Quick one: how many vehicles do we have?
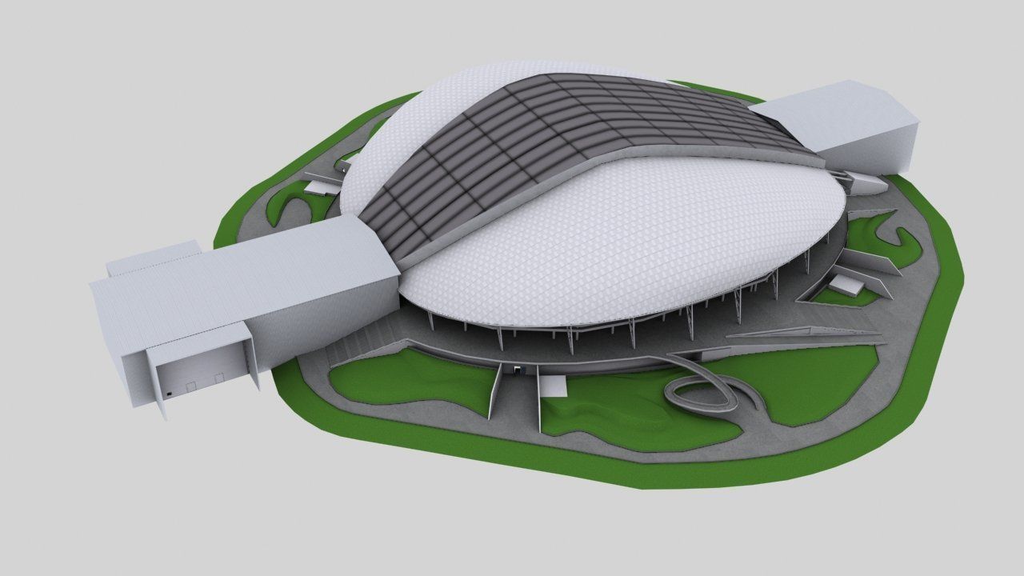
zero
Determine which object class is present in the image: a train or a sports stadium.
sports stadium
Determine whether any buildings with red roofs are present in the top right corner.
No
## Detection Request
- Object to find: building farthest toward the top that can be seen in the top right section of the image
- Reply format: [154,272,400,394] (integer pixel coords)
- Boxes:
[746,80,921,179]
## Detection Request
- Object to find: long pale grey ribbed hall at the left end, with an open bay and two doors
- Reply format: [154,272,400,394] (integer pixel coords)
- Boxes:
[90,216,403,419]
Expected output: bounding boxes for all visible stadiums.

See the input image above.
[338,59,847,355]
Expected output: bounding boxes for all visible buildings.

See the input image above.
[90,216,403,419]
[746,80,921,179]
